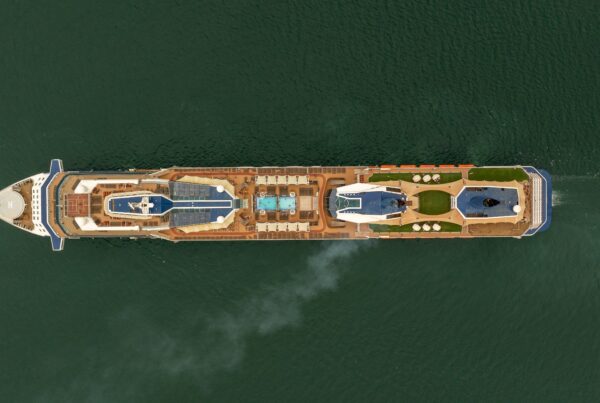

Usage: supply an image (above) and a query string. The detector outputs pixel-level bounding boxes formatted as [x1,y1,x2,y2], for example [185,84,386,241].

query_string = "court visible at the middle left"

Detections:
[63,193,90,217]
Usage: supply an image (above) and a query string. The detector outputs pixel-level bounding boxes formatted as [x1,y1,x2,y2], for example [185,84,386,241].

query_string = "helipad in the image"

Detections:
[0,190,25,218]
